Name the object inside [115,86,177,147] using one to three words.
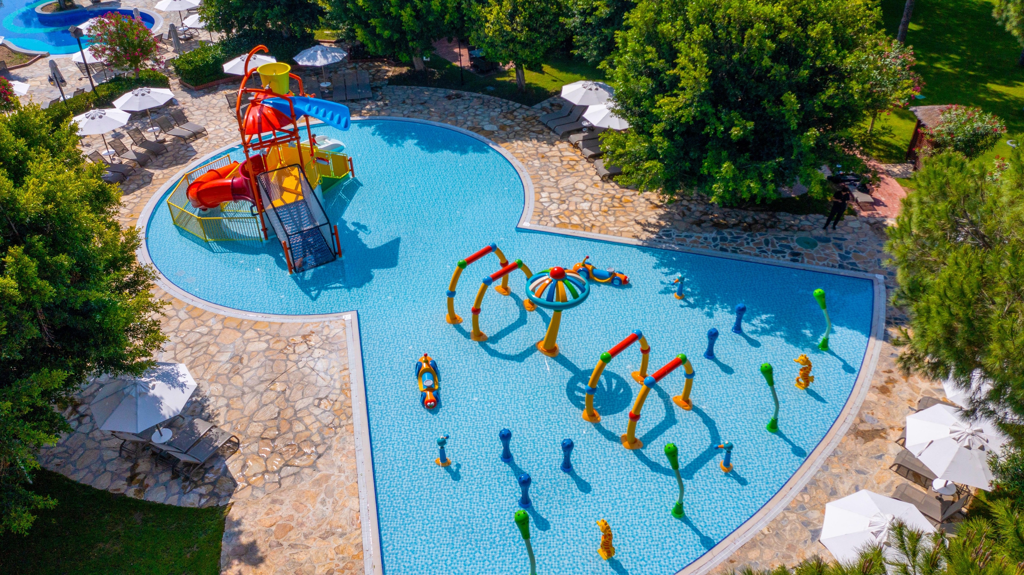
umbrella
